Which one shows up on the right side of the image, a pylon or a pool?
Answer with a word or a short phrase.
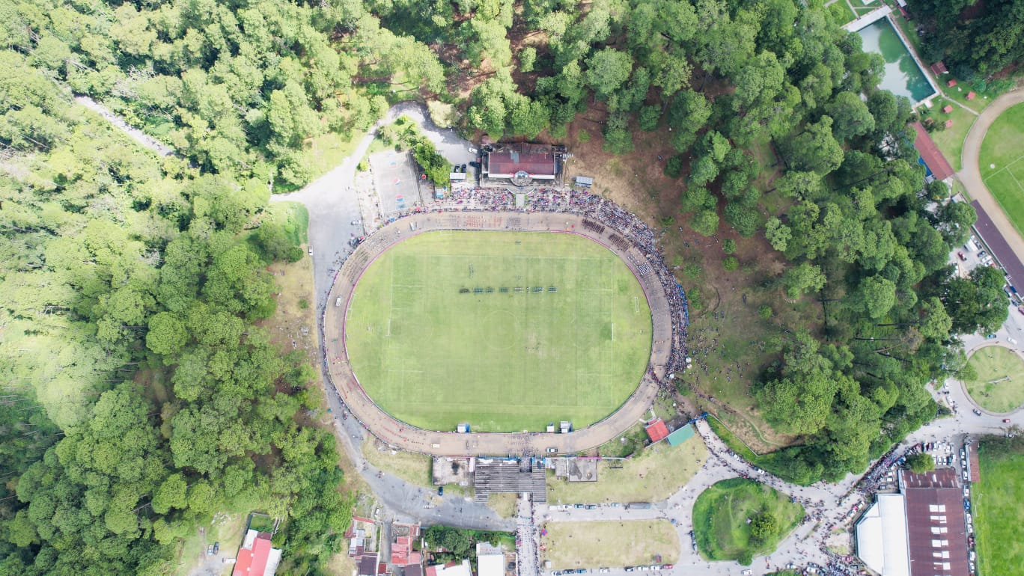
pool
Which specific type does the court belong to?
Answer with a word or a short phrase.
basketball court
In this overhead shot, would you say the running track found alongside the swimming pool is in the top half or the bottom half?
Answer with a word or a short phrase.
top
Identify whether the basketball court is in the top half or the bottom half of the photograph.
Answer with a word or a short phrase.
top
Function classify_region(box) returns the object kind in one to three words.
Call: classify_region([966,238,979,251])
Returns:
vehicle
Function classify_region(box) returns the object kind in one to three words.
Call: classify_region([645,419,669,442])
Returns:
house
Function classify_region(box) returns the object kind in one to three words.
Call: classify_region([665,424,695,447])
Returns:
building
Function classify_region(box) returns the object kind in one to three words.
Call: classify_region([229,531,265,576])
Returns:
house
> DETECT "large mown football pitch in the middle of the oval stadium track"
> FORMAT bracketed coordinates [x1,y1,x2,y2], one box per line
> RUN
[345,230,652,432]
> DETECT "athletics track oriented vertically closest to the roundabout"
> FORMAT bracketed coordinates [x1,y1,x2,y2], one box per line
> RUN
[958,83,1024,281]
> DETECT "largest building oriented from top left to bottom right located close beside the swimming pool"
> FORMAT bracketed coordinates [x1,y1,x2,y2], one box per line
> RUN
[899,121,954,182]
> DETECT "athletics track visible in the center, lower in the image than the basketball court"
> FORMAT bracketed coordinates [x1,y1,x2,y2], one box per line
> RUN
[323,209,672,456]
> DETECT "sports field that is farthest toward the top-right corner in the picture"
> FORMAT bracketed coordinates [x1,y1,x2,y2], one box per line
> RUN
[979,102,1024,253]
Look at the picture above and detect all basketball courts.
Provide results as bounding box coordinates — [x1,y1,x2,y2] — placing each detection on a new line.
[370,150,423,218]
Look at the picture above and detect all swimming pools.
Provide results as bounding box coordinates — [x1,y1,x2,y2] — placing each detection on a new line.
[849,5,939,107]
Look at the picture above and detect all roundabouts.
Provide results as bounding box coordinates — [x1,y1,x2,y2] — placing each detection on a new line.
[958,341,1024,418]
